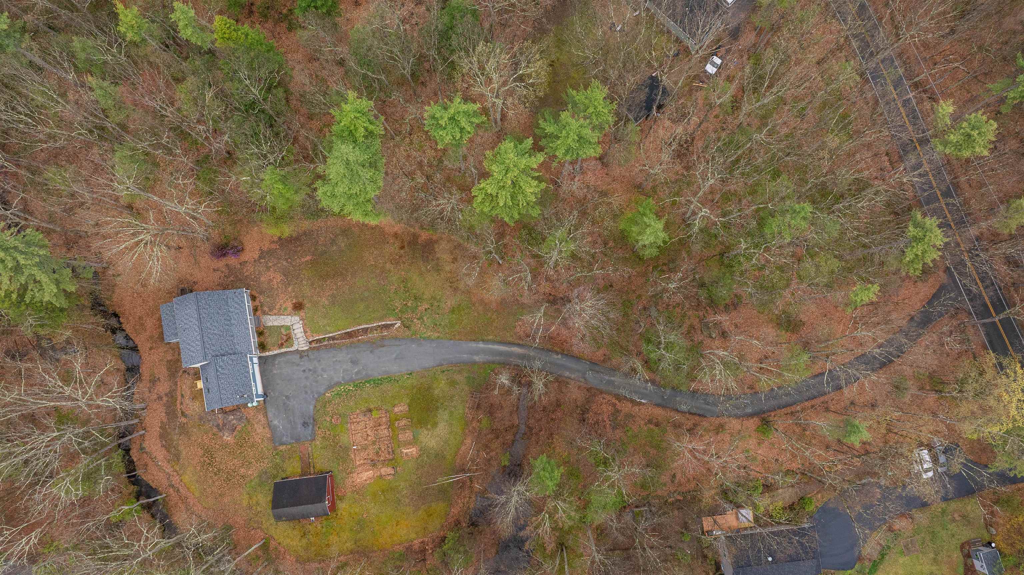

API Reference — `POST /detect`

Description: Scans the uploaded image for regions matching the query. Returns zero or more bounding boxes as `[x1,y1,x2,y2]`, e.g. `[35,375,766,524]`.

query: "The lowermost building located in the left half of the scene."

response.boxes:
[270,468,336,523]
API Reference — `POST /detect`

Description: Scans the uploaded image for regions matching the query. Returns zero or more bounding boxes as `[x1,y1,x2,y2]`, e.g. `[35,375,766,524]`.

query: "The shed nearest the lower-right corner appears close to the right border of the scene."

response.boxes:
[970,546,1006,575]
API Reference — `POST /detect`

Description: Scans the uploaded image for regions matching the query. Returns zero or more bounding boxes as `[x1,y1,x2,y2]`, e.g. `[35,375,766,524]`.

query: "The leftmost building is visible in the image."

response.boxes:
[160,288,263,410]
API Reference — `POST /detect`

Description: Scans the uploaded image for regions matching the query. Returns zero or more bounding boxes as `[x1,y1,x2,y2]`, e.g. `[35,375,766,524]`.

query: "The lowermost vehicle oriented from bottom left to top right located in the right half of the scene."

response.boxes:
[706,54,723,75]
